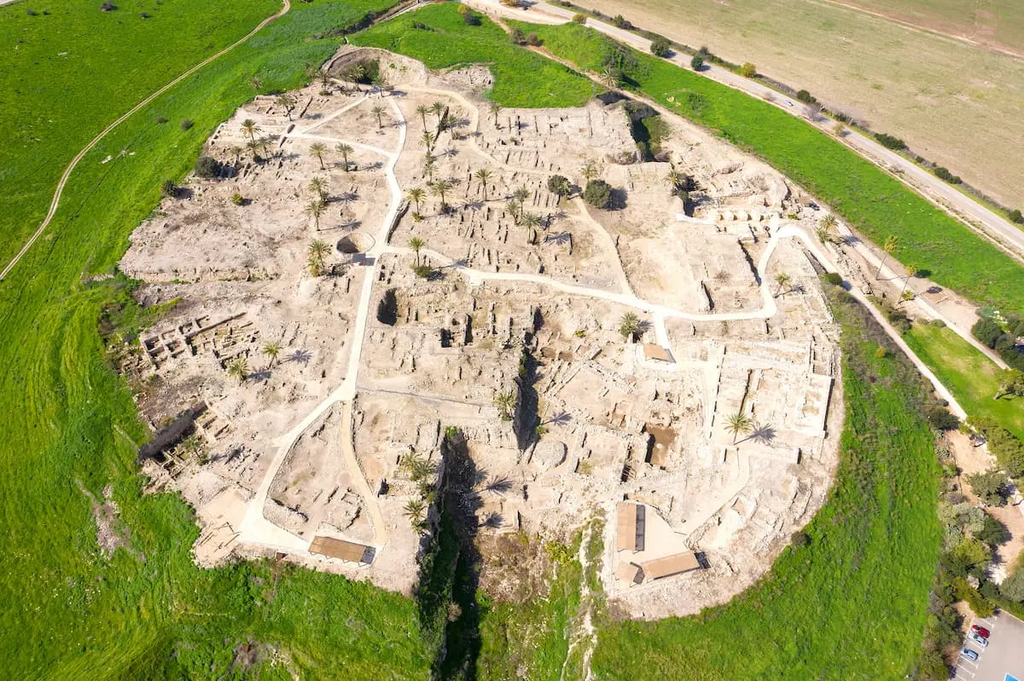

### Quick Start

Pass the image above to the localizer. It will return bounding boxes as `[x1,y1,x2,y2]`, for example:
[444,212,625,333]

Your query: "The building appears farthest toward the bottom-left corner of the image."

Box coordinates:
[153,447,192,478]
